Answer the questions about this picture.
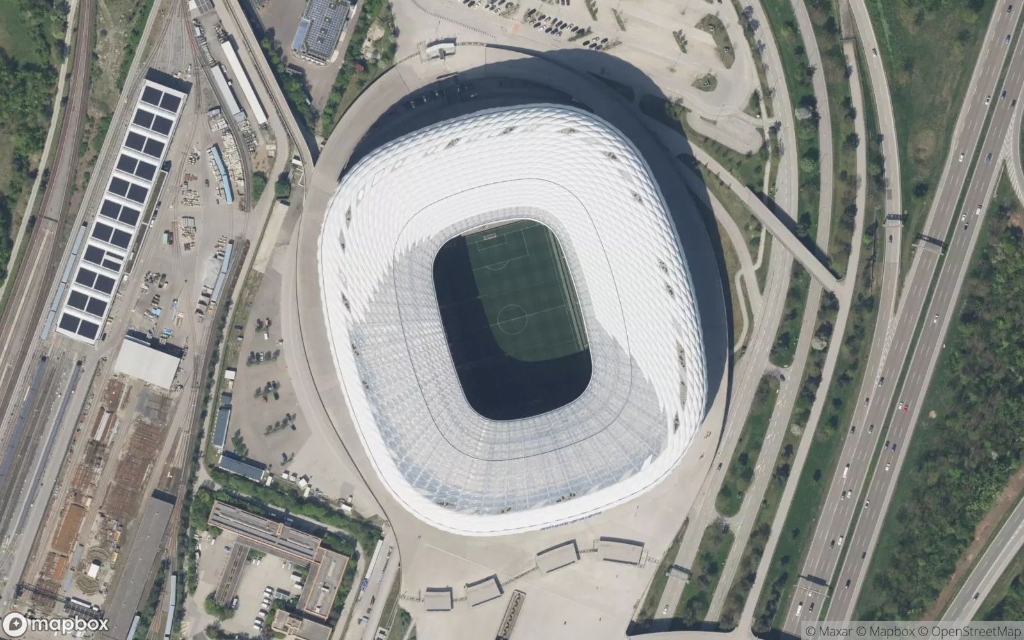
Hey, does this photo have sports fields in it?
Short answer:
Yes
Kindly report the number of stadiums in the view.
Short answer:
1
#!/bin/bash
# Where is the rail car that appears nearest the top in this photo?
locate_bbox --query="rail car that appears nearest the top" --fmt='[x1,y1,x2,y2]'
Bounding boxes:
[213,147,226,175]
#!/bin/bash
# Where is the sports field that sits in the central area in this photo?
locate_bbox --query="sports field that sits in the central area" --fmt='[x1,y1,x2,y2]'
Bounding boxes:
[435,219,590,420]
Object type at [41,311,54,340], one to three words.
rail car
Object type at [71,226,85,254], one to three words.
rail car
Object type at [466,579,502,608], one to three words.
building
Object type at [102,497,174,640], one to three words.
shed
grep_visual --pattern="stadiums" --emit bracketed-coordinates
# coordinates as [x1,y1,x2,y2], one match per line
[316,102,709,538]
